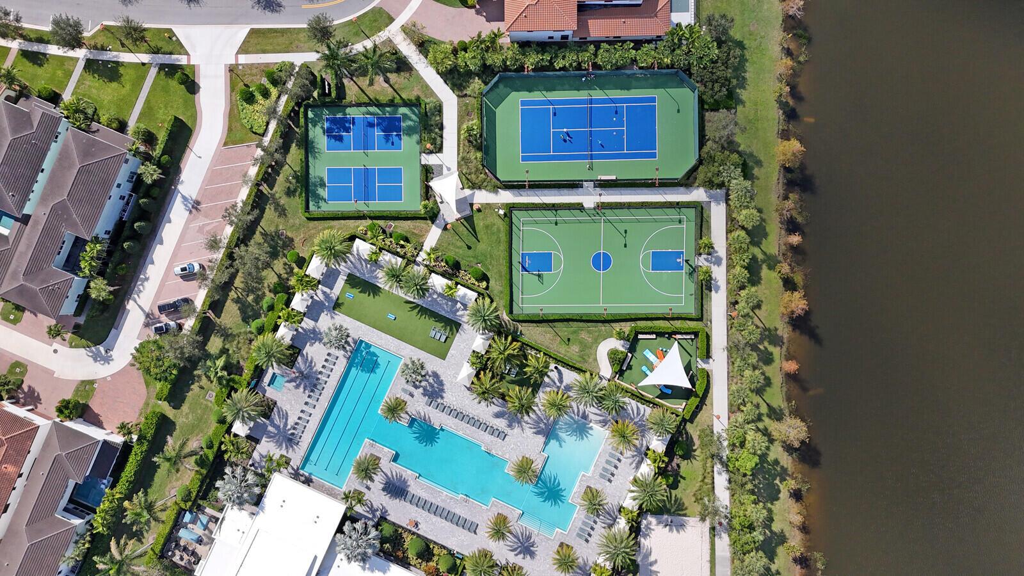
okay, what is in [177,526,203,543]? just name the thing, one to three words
umbrella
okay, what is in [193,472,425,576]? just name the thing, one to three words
building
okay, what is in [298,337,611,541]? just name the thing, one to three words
swimming pool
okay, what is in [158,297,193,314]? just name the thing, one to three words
vehicle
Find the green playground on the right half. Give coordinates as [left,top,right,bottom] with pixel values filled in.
[615,331,698,410]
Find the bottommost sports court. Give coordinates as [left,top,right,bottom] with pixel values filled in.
[639,513,712,576]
